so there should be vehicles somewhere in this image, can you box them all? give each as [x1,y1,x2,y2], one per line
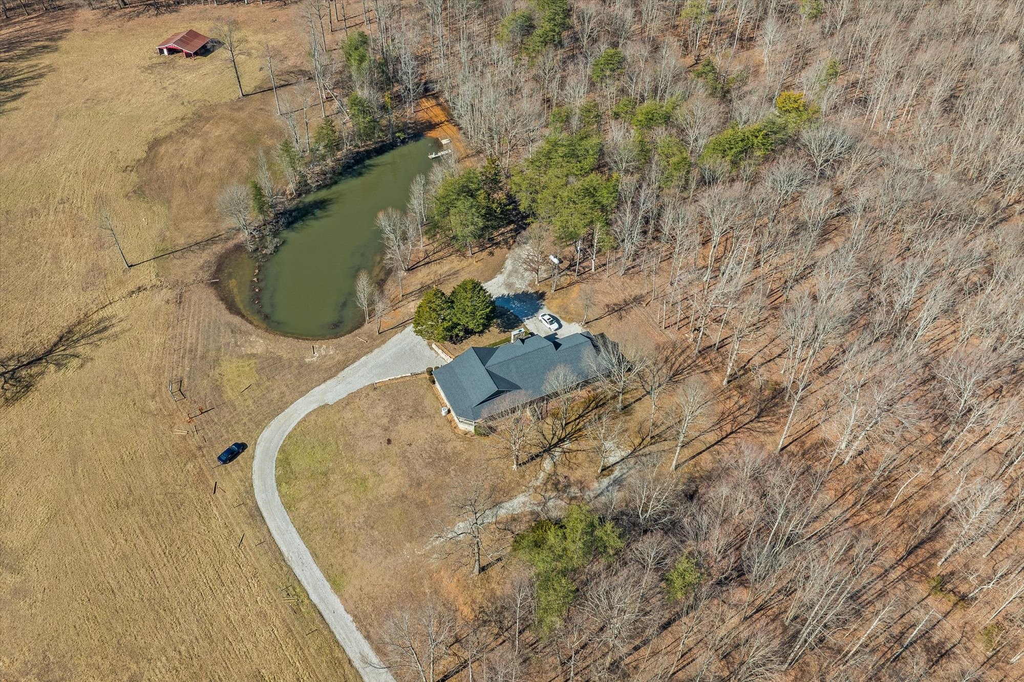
[539,313,561,330]
[215,442,249,466]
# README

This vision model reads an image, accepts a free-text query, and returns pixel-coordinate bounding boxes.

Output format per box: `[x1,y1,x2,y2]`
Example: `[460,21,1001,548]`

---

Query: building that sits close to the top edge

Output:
[154,30,220,60]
